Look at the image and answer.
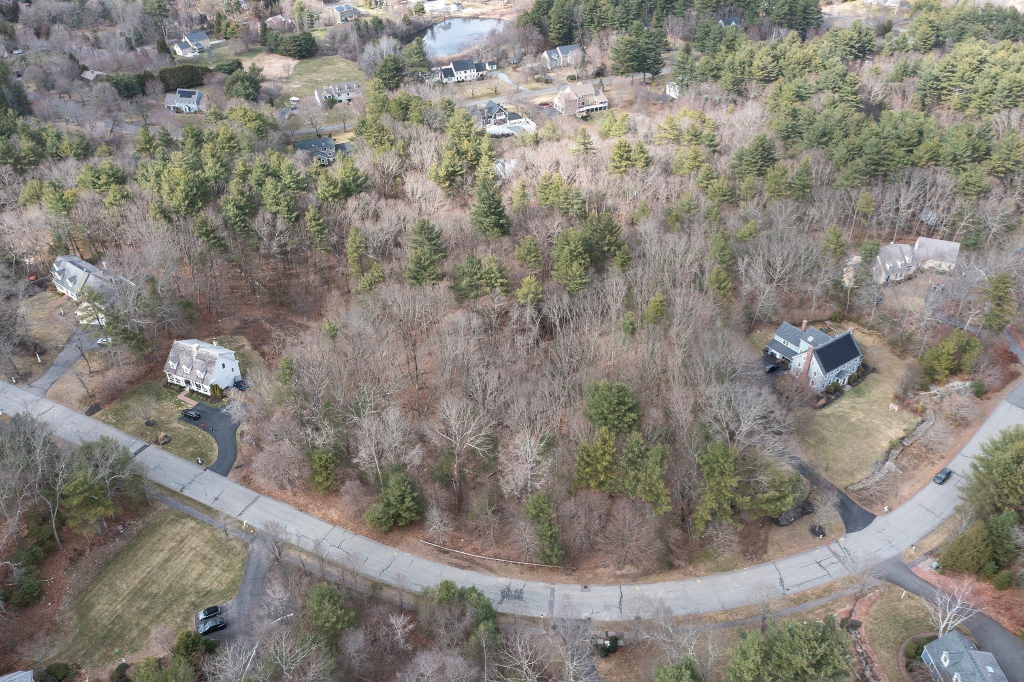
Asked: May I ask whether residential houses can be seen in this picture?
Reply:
Yes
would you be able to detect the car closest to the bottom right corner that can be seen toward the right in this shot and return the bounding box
[937,467,949,485]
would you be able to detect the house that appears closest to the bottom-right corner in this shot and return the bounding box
[920,626,1014,682]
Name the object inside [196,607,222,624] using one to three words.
car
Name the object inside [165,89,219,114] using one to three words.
house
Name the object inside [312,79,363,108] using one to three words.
house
